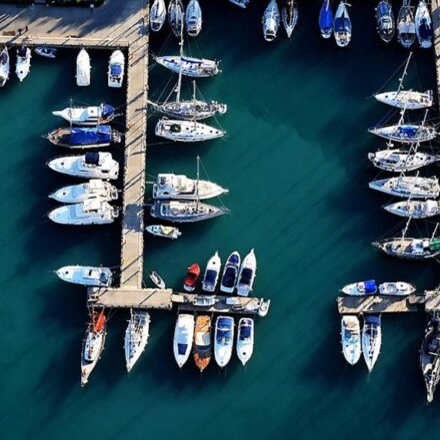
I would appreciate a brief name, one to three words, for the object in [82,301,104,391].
boat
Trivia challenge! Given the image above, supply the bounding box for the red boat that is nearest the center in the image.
[185,262,200,295]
